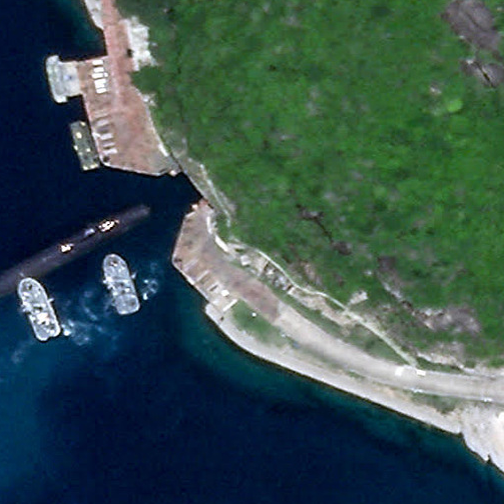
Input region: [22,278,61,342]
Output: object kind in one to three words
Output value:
boat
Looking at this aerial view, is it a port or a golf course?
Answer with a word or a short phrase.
port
